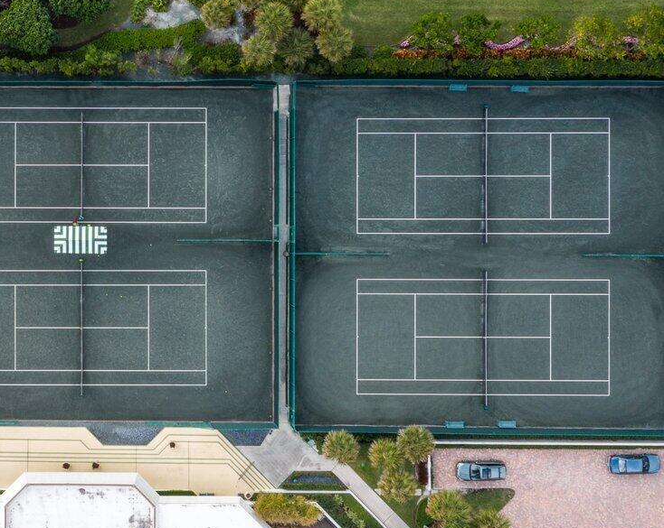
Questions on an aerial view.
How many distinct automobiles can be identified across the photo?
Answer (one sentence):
The photo contains 2 automobiles.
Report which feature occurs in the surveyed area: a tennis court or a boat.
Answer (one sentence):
It is a tennis court that can be seen here.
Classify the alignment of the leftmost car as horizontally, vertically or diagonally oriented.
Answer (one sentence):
I'd say the leftmost car is aligned horizontally in the picture.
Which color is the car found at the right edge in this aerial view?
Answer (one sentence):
The car found at the right edge is blue.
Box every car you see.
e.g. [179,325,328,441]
[605,452,658,477]
[454,459,507,485]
